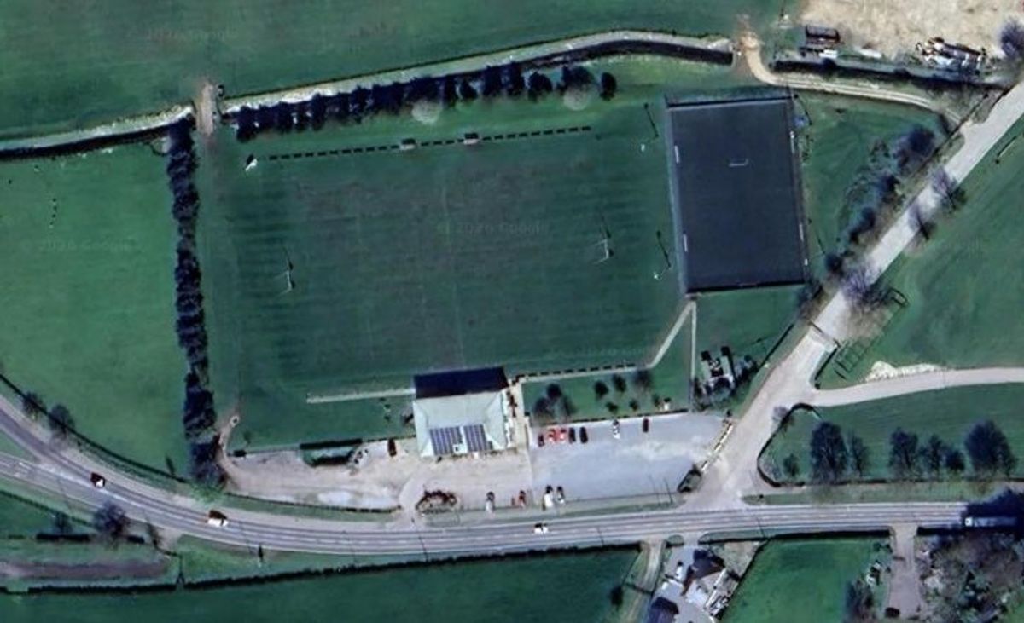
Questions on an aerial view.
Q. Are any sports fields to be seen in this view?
Yes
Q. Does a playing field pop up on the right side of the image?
Yes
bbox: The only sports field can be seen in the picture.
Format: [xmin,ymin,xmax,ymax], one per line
[670,96,806,291]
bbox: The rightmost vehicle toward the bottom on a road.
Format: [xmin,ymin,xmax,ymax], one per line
[965,513,1018,525]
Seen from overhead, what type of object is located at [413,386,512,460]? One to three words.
building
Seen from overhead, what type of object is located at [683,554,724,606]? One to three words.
house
